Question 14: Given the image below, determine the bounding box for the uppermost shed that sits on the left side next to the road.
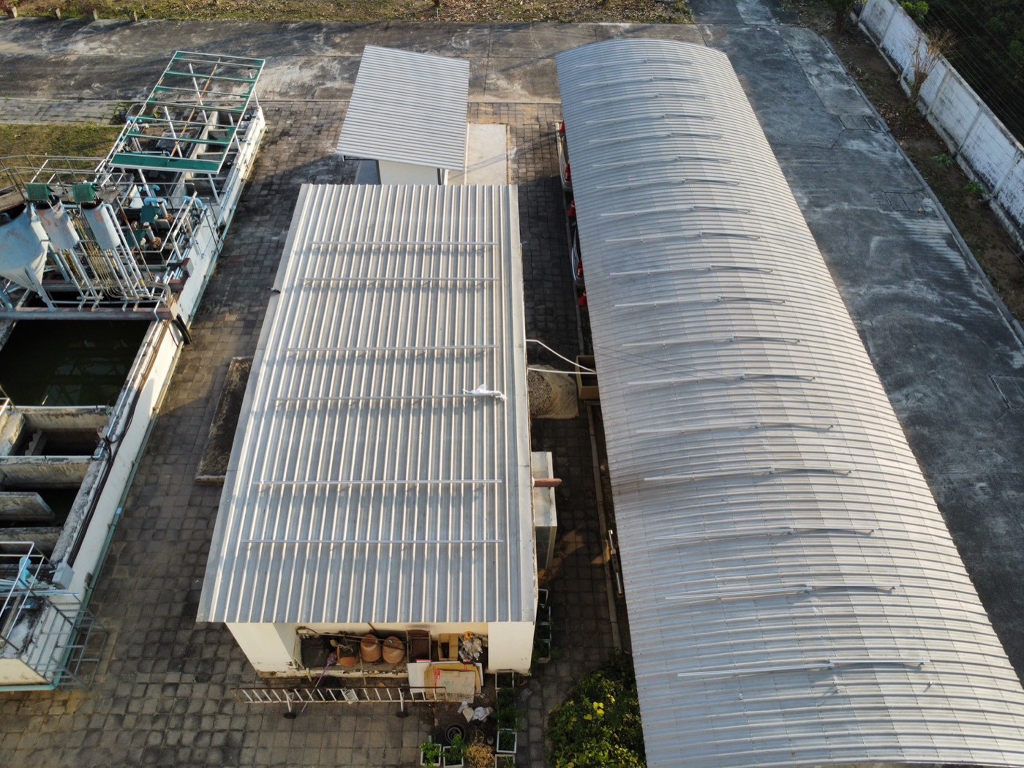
[338,45,470,185]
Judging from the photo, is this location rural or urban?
urban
